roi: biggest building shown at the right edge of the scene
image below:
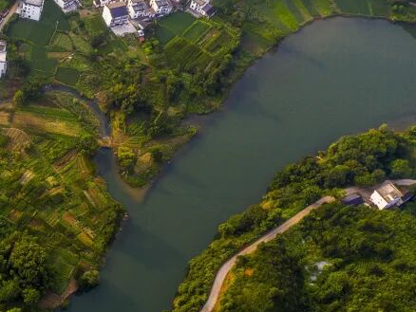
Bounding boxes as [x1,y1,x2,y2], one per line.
[370,179,408,210]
